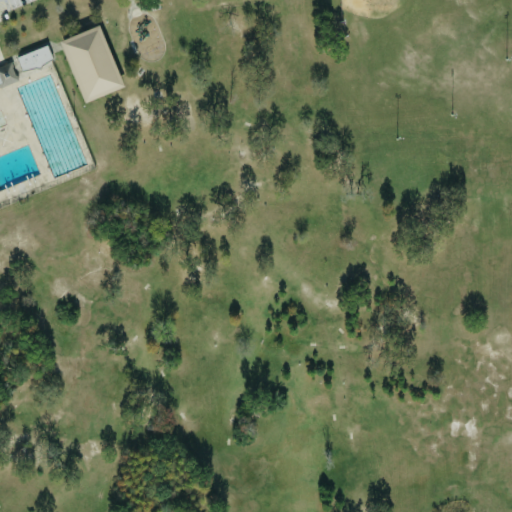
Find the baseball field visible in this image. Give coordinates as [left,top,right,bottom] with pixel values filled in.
[341,0,512,138]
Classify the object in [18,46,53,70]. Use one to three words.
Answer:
building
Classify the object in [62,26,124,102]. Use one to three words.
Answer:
building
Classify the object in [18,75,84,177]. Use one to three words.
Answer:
swimming pool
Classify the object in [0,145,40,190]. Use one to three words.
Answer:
swimming pool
